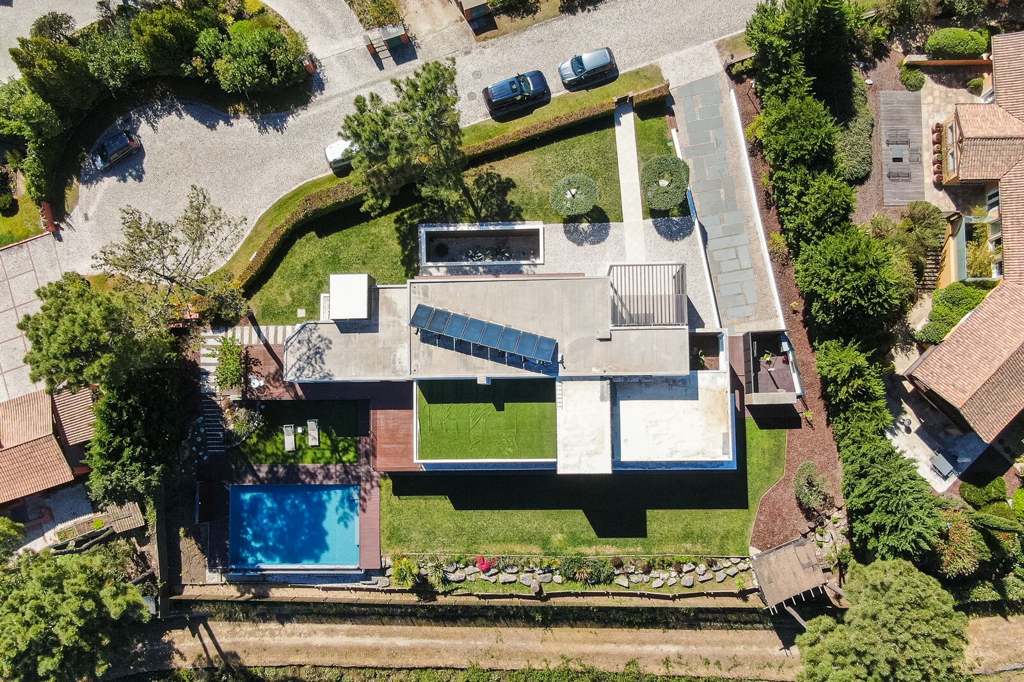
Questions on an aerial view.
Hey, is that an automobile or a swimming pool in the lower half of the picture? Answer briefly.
swimming pool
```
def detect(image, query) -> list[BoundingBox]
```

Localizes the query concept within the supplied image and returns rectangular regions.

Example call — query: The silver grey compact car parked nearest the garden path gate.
[555,47,620,90]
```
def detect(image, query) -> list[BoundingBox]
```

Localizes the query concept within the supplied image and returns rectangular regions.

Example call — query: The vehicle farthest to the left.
[90,129,148,176]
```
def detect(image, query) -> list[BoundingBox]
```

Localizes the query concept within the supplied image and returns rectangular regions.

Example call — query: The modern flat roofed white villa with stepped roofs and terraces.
[283,273,737,474]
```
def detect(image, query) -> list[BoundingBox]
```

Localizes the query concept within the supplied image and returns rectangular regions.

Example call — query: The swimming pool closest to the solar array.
[225,484,366,574]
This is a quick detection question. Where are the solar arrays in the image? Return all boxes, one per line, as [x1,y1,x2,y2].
[410,305,555,364]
